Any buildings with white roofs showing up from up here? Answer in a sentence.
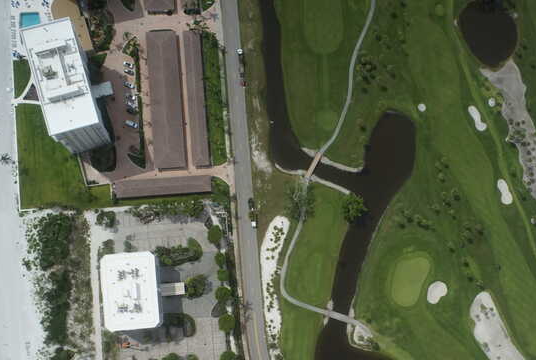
Yes, the image includes a building with a white roof.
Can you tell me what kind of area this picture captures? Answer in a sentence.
The picture captures a golf course.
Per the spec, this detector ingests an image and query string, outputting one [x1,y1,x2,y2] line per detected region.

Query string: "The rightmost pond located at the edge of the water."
[459,0,518,69]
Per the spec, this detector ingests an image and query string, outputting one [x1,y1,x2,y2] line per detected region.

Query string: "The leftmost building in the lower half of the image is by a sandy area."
[100,251,162,332]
